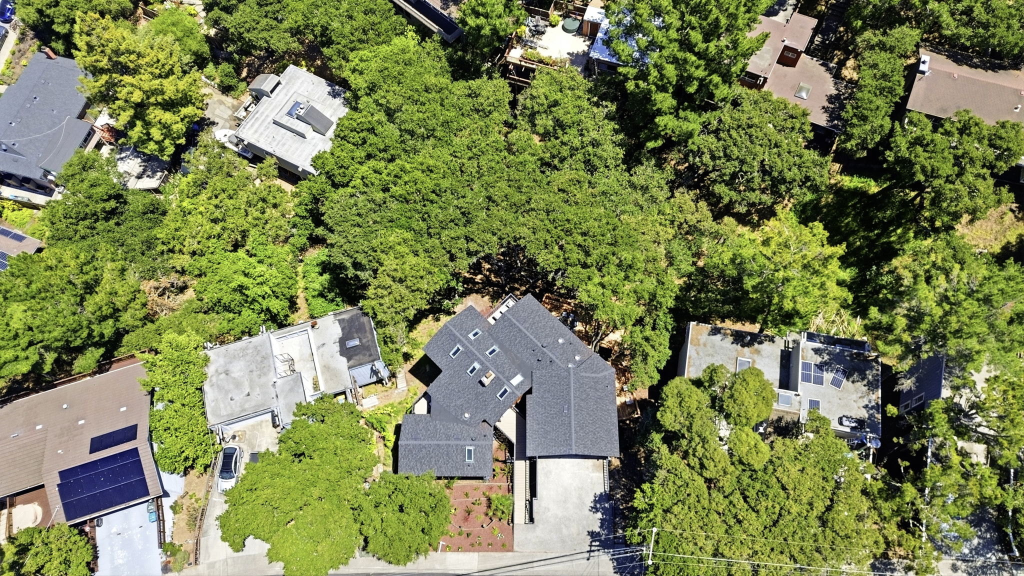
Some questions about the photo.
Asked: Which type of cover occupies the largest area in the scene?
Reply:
trees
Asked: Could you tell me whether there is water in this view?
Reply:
No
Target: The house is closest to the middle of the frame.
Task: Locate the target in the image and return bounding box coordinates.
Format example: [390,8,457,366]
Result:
[398,293,619,478]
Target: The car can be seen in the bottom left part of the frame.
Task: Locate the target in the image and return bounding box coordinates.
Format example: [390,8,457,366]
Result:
[210,441,239,496]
